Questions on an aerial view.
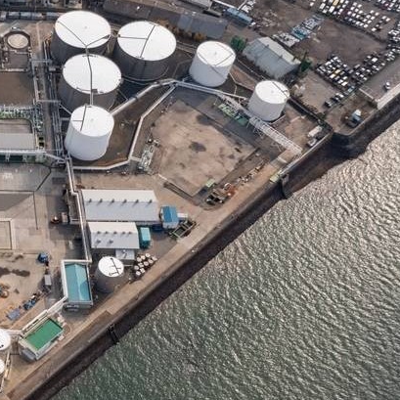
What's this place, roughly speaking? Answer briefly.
industrial area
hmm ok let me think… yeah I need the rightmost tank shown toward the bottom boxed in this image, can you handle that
[92,256,126,295]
